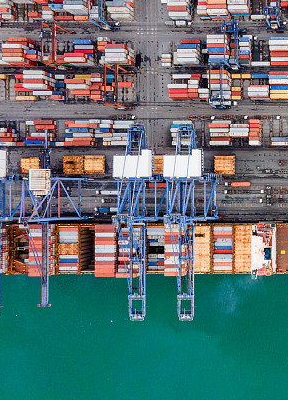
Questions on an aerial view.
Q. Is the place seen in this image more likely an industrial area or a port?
port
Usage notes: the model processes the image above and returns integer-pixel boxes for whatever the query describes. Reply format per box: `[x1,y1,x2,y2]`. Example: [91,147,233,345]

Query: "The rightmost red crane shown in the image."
[104,63,135,109]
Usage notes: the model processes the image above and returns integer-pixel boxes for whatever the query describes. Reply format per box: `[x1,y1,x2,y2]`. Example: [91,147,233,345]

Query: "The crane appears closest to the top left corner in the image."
[41,21,78,71]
